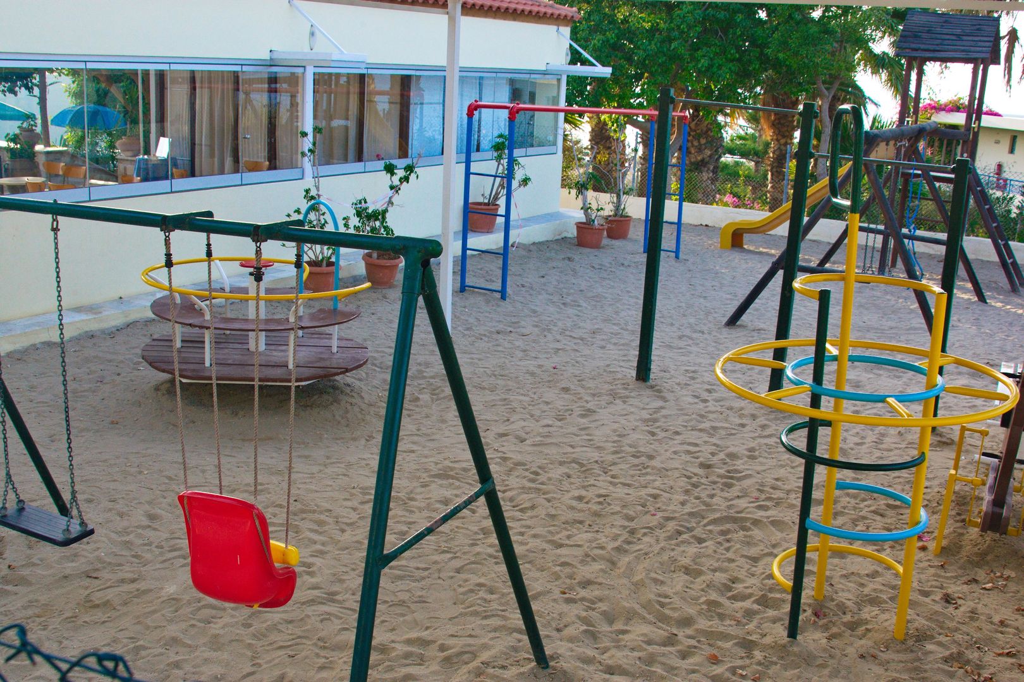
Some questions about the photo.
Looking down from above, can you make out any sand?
Yes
